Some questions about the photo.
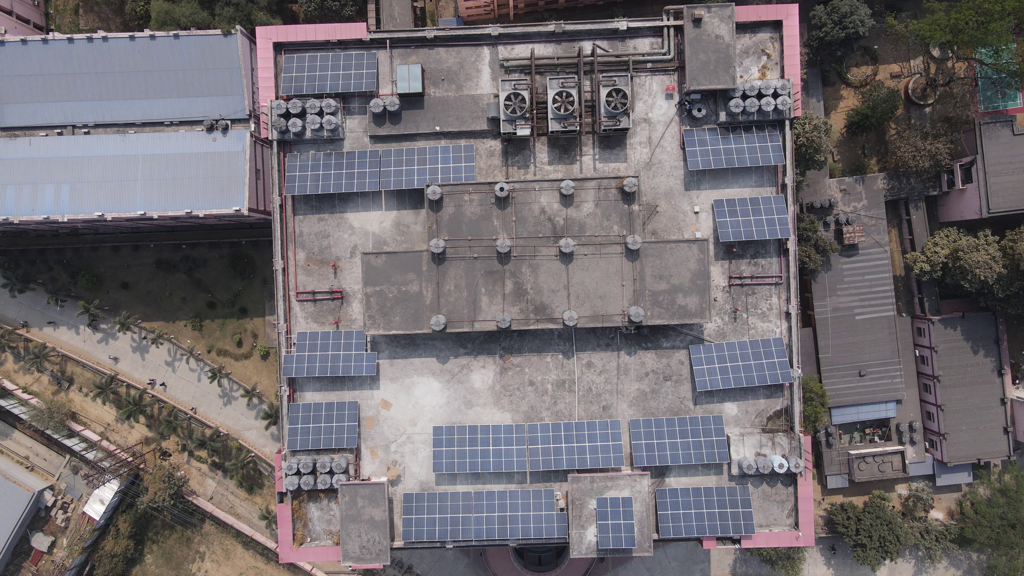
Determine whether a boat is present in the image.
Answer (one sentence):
No, there isn't any boat down there.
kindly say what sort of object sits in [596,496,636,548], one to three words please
solar array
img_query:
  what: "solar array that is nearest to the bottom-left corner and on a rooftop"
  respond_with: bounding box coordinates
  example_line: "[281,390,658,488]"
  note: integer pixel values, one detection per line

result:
[287,401,359,450]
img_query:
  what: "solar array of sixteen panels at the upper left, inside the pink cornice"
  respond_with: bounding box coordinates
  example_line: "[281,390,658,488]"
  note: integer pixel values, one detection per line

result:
[281,52,378,96]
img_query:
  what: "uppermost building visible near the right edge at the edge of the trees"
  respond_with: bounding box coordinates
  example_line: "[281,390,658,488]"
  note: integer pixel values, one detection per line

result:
[943,114,1024,220]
